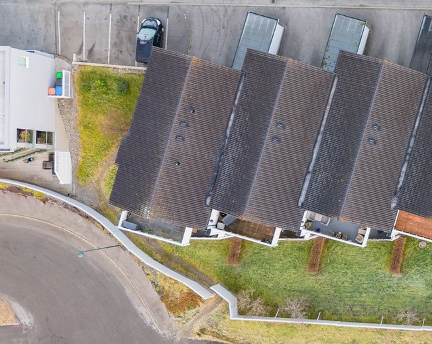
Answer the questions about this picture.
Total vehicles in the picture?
1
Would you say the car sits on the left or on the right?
left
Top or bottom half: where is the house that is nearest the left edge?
top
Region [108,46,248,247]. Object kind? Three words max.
house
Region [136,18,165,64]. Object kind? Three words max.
car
